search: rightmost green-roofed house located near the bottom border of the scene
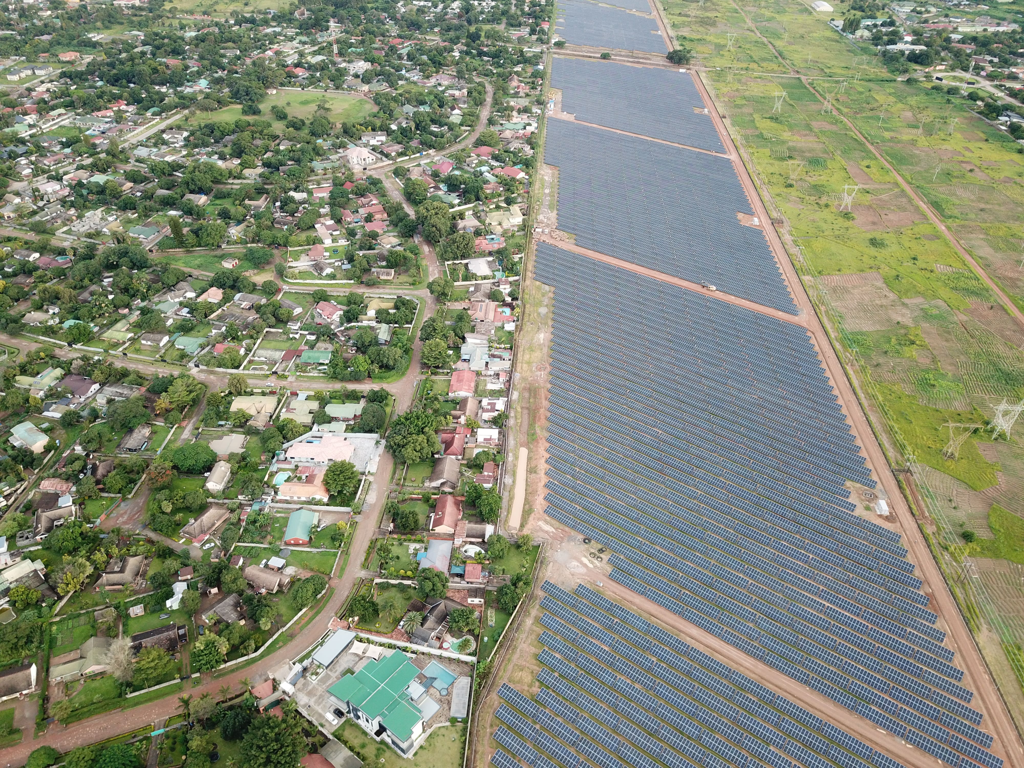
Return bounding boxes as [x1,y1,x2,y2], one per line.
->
[326,649,441,756]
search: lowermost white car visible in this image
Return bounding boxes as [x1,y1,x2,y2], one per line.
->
[324,711,339,726]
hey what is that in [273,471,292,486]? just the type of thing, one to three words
swimming pool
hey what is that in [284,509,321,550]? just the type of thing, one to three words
house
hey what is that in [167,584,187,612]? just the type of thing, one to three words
shed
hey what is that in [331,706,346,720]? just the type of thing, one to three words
car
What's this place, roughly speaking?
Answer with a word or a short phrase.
residential area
